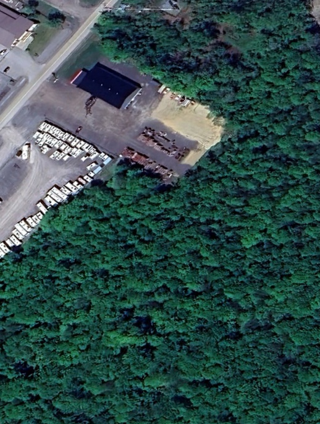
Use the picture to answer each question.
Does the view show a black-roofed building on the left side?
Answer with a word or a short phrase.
Yes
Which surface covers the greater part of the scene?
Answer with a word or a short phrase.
trees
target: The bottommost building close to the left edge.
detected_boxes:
[0,5,39,51]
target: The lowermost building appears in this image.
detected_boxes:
[70,57,146,113]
